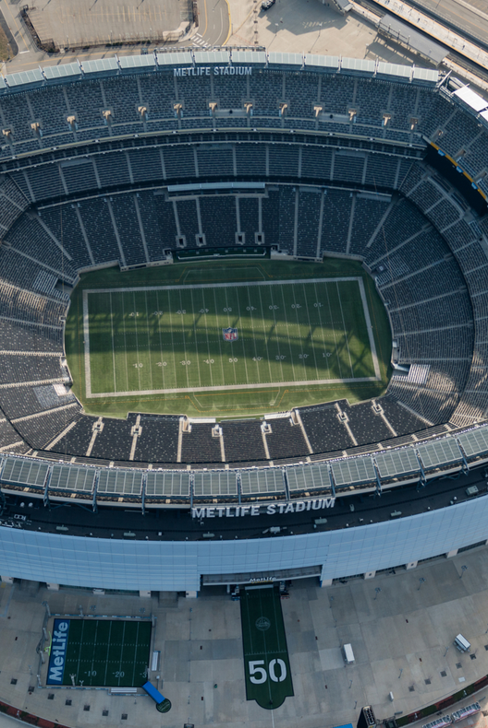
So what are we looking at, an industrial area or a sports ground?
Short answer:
sports ground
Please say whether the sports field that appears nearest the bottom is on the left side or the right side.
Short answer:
left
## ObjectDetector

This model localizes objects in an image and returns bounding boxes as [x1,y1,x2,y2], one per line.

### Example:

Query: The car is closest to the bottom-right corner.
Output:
[451,699,486,724]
